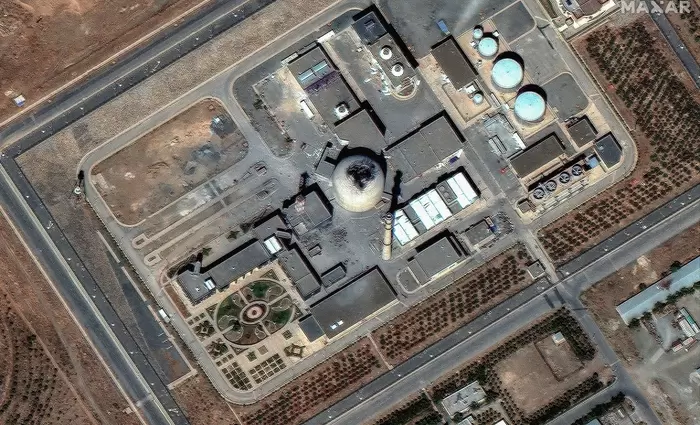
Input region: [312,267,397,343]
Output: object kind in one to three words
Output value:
building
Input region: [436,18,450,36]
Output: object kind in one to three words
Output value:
vehicle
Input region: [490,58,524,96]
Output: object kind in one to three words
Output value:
storage tank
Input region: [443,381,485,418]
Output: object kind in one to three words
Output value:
house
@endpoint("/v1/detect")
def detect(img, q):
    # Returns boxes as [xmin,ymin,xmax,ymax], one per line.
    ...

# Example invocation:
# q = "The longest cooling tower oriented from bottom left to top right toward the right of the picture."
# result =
[530,161,587,207]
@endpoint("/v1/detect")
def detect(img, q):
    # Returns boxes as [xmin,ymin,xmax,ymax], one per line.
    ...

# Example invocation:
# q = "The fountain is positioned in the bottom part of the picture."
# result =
[240,299,268,325]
